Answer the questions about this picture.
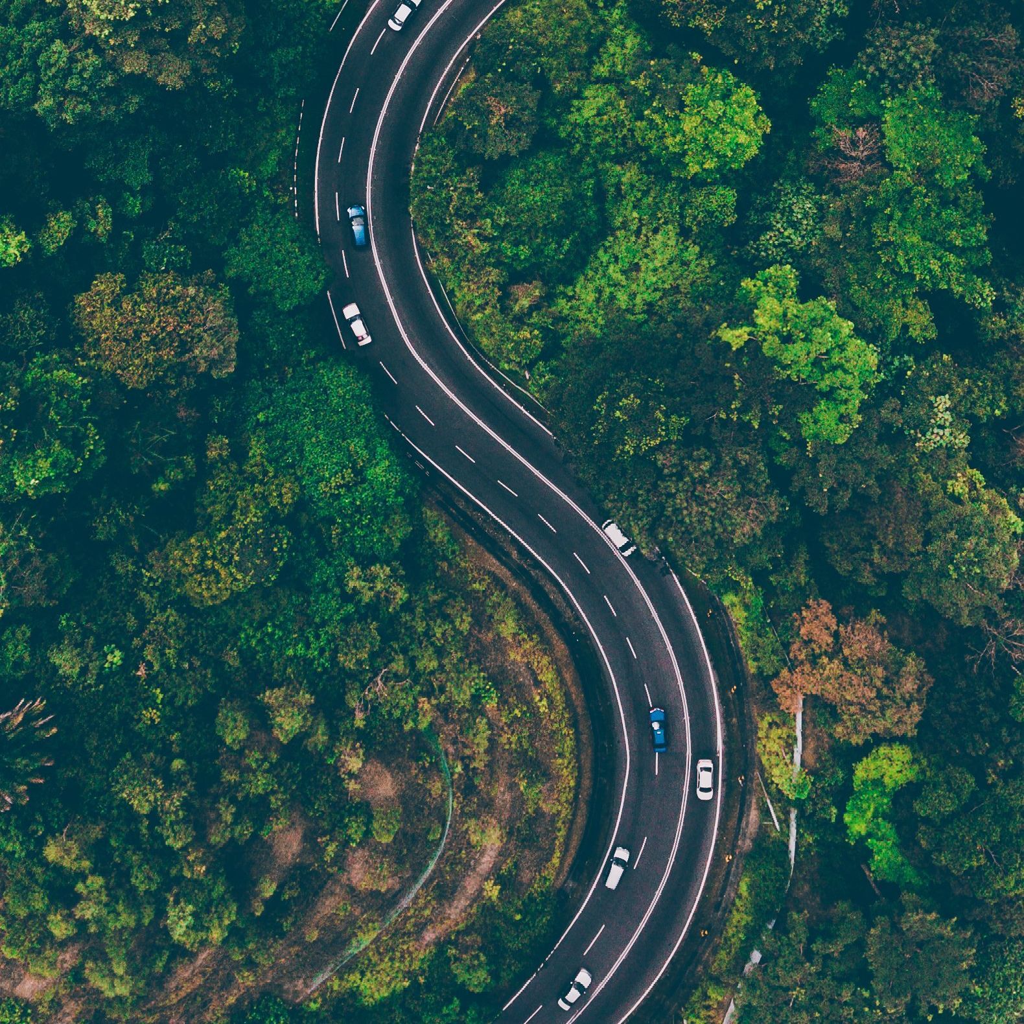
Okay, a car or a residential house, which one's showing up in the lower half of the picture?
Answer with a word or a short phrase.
car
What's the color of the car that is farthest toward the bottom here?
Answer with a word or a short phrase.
white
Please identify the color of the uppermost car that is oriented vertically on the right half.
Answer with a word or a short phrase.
blue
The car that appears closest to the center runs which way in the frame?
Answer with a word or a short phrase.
at an angle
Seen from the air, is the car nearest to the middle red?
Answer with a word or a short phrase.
No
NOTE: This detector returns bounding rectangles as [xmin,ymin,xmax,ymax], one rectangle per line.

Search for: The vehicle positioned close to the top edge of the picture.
[384,0,418,35]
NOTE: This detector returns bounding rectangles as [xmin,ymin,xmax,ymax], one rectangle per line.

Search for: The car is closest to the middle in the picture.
[602,520,635,557]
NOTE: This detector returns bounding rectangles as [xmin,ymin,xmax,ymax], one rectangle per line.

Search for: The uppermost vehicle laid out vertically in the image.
[347,205,368,248]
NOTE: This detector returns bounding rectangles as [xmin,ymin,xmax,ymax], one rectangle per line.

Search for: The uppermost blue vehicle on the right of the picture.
[648,709,668,752]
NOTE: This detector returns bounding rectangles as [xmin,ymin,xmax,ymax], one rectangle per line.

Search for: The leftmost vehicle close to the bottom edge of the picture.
[558,969,590,1013]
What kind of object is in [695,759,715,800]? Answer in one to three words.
car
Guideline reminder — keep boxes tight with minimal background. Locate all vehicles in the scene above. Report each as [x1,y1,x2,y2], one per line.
[347,205,368,248]
[648,709,668,752]
[558,969,590,1013]
[384,0,418,35]
[602,520,635,557]
[343,303,373,346]
[604,848,629,891]
[695,759,715,800]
